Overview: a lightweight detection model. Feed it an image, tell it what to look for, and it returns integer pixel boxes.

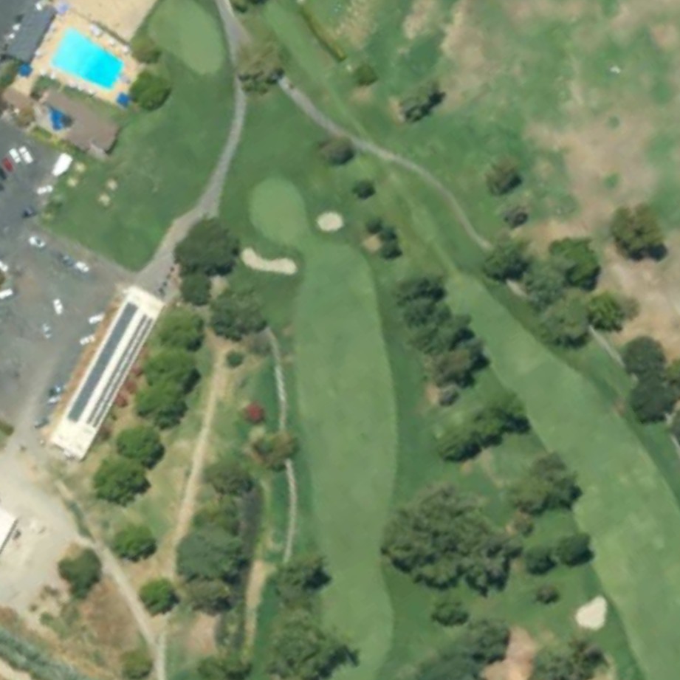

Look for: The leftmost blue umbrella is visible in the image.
[16,61,32,77]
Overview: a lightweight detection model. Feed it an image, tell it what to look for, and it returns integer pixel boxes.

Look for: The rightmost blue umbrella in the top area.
[114,91,130,107]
